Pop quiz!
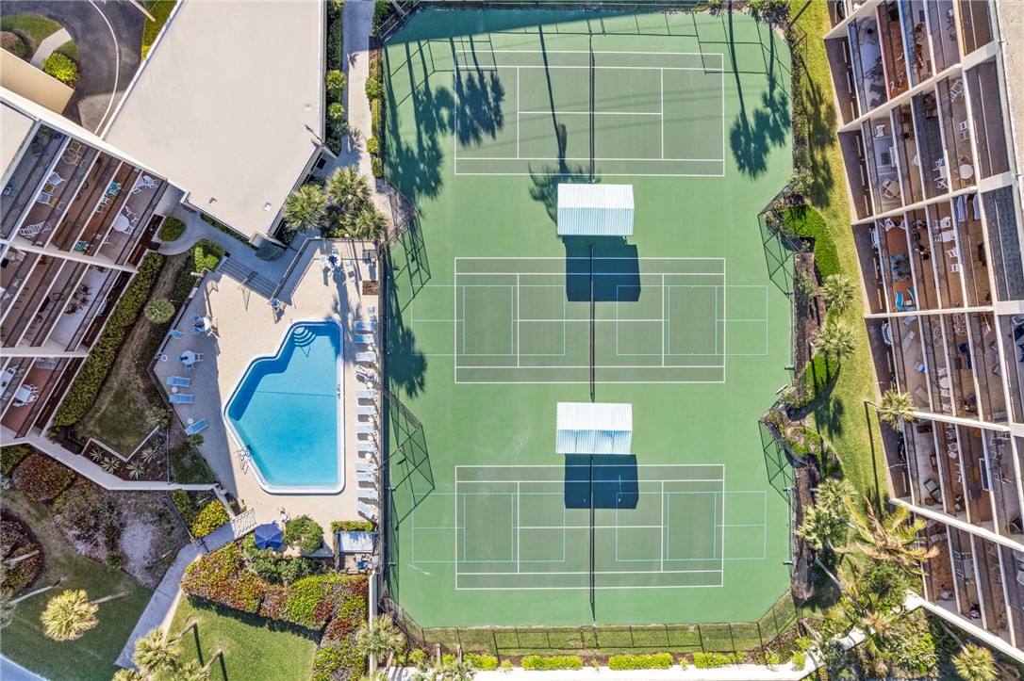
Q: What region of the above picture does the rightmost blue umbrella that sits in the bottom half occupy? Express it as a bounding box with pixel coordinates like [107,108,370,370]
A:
[244,521,275,552]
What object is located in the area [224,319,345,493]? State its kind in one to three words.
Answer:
swimming pool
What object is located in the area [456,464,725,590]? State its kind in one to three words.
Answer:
tennis court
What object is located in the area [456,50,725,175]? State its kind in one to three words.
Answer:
tennis court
